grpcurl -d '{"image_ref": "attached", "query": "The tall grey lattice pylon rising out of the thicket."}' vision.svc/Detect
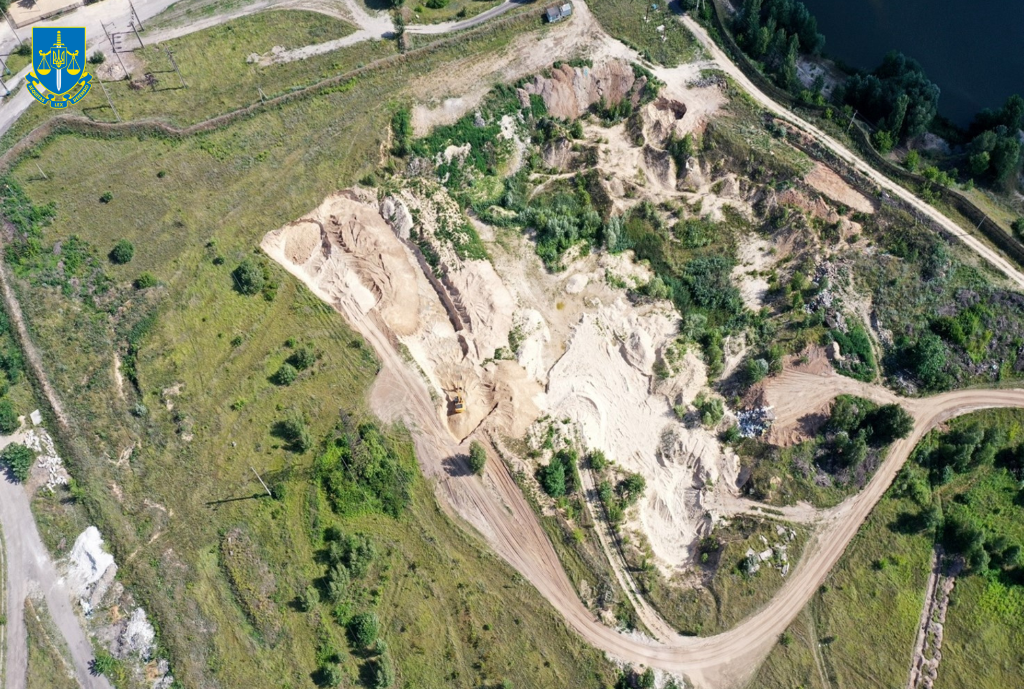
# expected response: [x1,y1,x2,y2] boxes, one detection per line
[329,407,372,481]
